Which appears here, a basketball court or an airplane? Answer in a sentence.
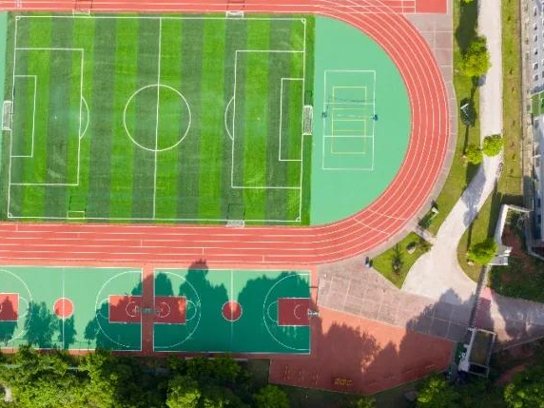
The image shows a basketball court.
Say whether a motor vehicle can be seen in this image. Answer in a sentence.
No, the photo shows no motor vehicle.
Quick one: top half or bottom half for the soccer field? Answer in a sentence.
You can find the soccer field in the top half.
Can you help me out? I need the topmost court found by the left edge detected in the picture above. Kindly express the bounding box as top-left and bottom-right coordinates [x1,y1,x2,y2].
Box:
[0,267,142,351]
